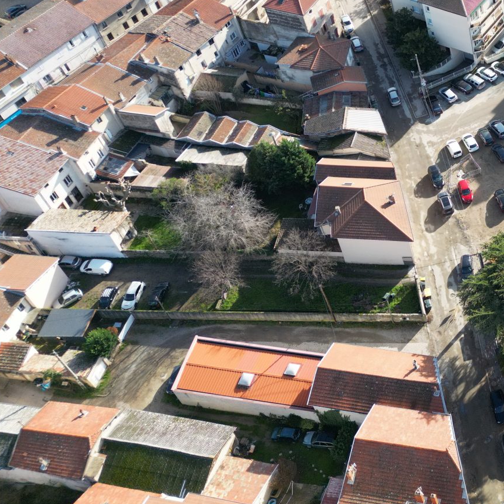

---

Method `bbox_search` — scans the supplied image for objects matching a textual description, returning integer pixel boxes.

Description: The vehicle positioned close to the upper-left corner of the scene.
[1,0,30,19]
